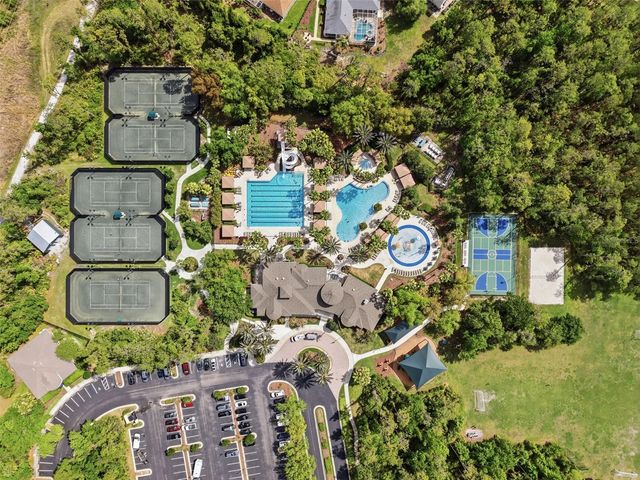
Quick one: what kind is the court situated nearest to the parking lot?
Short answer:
tennis court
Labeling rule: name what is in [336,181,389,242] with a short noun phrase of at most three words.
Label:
swimming pool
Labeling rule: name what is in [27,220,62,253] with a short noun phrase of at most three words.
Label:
shed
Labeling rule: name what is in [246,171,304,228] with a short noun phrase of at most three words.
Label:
swimming pool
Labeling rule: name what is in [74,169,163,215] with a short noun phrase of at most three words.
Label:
tennis court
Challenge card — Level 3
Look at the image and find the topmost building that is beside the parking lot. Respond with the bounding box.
[251,262,391,331]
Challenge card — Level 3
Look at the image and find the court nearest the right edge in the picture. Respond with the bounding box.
[530,248,566,304]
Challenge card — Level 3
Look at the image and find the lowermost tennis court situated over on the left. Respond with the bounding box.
[70,269,166,322]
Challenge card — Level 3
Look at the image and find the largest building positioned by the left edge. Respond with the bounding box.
[8,329,79,399]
